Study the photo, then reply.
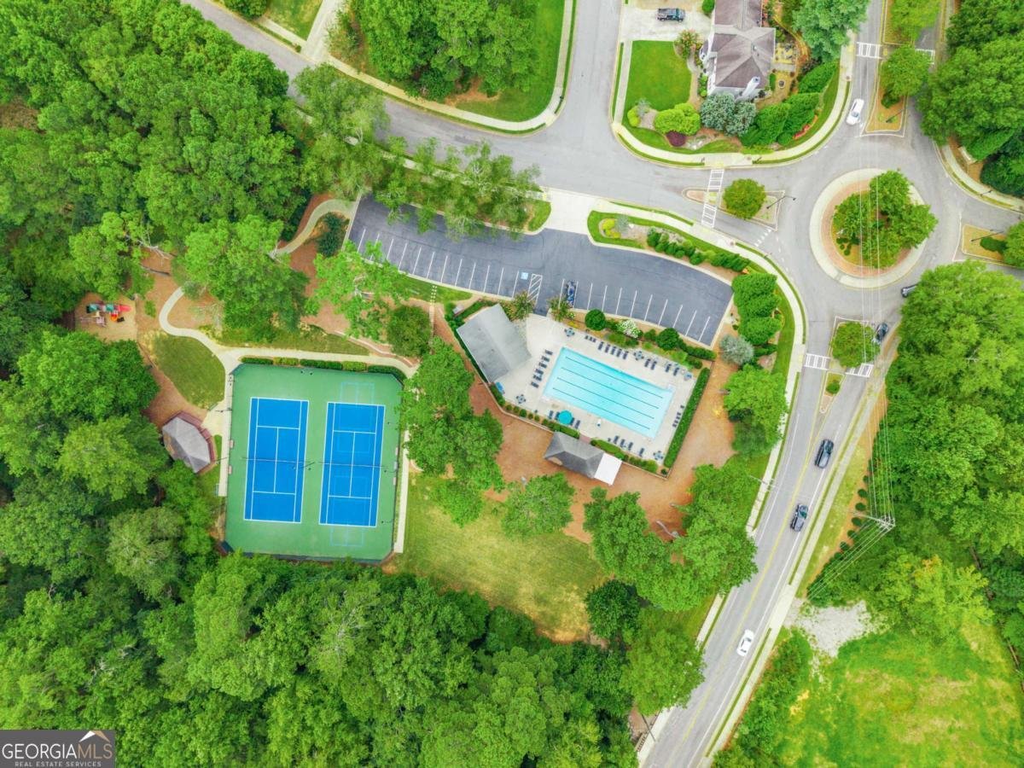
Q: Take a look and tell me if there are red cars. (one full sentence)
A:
No, I can see no red car in this picture.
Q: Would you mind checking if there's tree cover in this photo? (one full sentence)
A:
Yes, tree cover shows up in the scene.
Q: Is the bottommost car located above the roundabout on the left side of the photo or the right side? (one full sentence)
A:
You can find the bottommost car located above the roundabout on the right side of the picture.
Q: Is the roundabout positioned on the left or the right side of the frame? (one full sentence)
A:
The roundabout sits on the right side.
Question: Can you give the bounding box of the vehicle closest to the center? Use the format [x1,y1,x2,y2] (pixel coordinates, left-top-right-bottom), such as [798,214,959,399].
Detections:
[564,280,576,306]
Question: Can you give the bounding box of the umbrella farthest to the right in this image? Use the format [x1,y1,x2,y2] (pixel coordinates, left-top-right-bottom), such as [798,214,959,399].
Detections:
[560,411,573,424]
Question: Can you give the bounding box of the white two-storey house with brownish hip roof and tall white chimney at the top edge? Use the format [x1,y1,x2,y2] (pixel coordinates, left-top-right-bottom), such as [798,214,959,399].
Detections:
[698,0,776,103]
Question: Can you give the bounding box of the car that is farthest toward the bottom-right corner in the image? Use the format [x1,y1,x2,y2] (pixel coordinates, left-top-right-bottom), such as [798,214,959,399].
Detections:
[736,628,753,655]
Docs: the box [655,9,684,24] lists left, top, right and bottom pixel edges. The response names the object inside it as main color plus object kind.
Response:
gray vehicle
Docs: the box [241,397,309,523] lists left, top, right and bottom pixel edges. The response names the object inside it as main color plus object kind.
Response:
blue tennis court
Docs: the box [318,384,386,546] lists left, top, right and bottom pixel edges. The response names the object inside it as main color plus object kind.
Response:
blue tennis court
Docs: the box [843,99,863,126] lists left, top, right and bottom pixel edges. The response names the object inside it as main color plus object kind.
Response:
white car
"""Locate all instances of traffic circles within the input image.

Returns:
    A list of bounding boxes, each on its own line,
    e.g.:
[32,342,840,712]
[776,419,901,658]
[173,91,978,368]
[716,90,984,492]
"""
[809,167,928,288]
